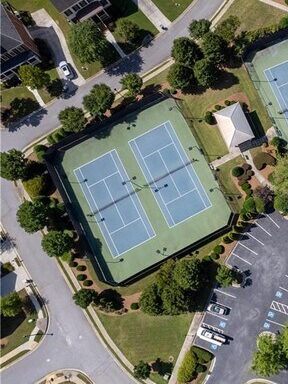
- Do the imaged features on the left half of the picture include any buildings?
Yes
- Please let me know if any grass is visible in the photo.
Yes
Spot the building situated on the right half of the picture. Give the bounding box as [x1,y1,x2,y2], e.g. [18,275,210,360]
[213,102,255,152]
